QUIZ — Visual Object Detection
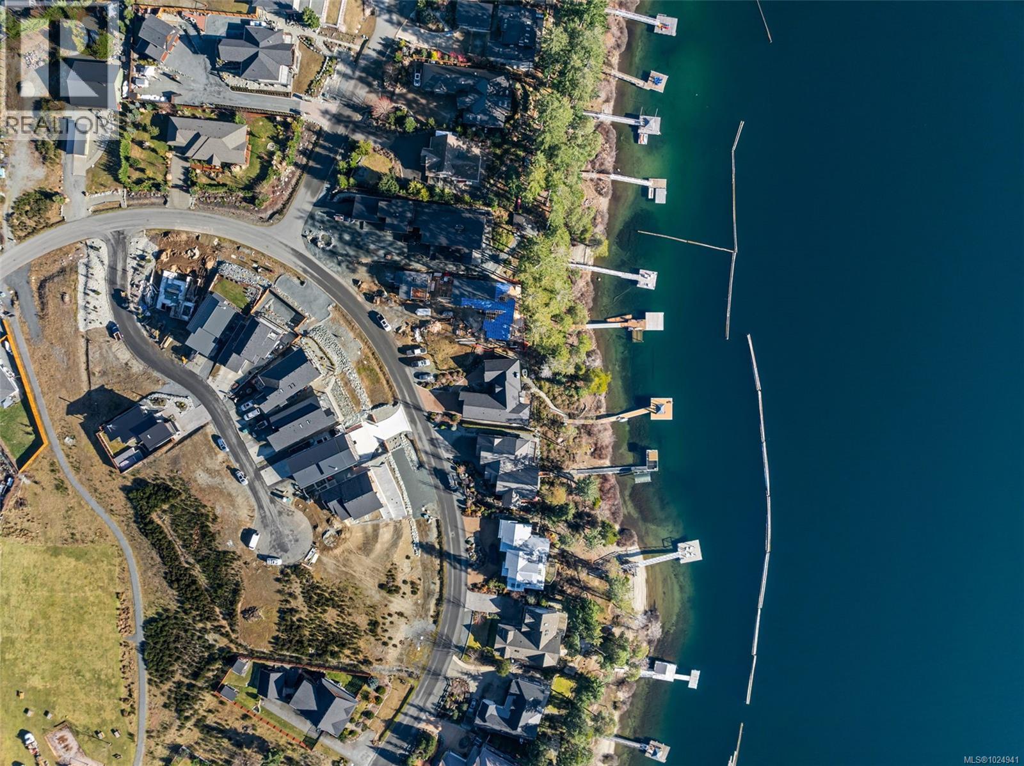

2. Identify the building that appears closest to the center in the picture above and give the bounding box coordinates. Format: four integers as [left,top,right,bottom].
[458,359,530,424]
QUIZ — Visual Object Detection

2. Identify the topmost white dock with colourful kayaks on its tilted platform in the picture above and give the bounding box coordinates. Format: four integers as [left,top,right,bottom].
[606,5,679,37]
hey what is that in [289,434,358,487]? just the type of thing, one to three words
house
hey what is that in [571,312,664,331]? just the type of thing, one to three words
pier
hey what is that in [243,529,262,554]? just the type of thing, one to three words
vehicle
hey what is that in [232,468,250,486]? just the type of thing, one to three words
car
